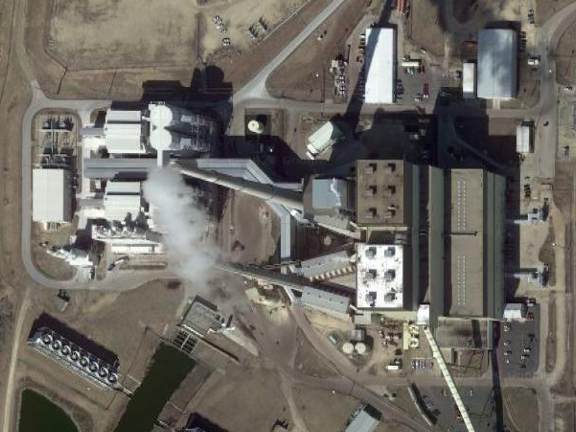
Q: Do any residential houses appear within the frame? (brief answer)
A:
Yes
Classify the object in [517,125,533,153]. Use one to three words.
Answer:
building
